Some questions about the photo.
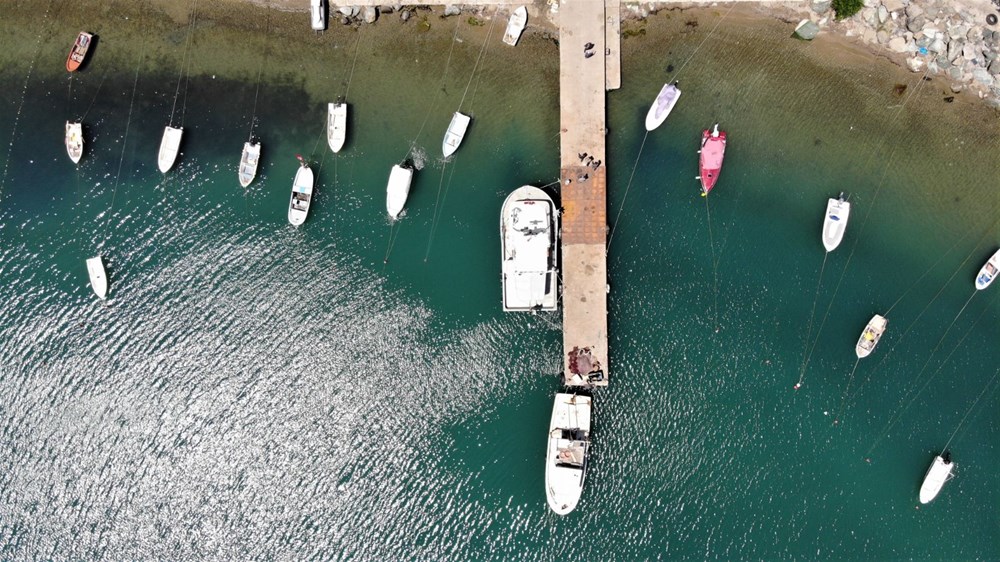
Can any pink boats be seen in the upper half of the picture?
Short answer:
Yes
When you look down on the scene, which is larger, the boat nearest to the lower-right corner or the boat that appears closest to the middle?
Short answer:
the boat that appears closest to the middle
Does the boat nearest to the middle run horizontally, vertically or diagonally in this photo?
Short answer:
vertically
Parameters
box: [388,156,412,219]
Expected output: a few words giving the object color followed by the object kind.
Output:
white boat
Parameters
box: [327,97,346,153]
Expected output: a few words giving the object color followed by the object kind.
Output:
white boat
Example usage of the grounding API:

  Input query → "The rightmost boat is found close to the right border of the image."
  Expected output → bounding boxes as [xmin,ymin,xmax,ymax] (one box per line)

[975,250,1000,290]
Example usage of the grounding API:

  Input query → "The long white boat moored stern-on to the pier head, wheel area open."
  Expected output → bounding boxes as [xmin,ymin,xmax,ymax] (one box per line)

[545,392,593,516]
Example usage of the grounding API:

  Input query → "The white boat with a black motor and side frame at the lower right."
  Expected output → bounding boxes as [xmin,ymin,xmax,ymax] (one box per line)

[919,448,953,504]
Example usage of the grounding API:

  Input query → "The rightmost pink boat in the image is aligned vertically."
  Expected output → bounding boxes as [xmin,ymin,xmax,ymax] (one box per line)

[698,119,725,194]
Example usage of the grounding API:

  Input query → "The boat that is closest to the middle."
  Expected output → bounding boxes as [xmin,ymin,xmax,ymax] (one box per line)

[500,185,562,314]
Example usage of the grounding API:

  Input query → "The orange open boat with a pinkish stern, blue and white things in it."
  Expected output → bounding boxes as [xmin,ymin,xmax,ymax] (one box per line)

[68,31,94,71]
